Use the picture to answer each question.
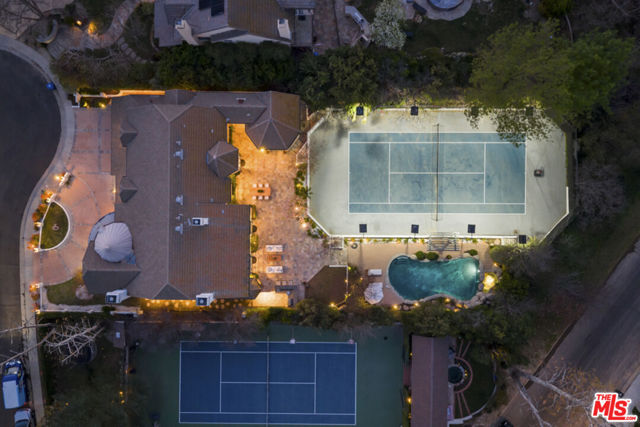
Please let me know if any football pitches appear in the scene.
No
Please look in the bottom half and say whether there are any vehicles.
Yes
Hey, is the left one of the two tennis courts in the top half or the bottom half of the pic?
bottom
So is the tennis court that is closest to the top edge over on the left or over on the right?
right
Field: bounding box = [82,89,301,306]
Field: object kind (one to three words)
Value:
house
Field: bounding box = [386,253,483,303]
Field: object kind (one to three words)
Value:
swimming pool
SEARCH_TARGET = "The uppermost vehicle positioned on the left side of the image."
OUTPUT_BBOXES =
[2,357,31,412]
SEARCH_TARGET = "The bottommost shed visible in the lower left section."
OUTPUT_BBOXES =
[107,318,129,347]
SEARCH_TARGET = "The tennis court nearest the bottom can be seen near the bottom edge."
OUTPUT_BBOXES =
[131,323,402,427]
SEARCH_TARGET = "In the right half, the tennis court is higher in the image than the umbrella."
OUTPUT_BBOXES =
[309,111,567,238]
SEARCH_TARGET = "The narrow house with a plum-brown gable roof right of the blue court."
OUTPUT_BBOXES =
[411,333,448,427]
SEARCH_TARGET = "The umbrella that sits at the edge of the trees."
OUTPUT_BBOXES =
[363,283,382,303]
